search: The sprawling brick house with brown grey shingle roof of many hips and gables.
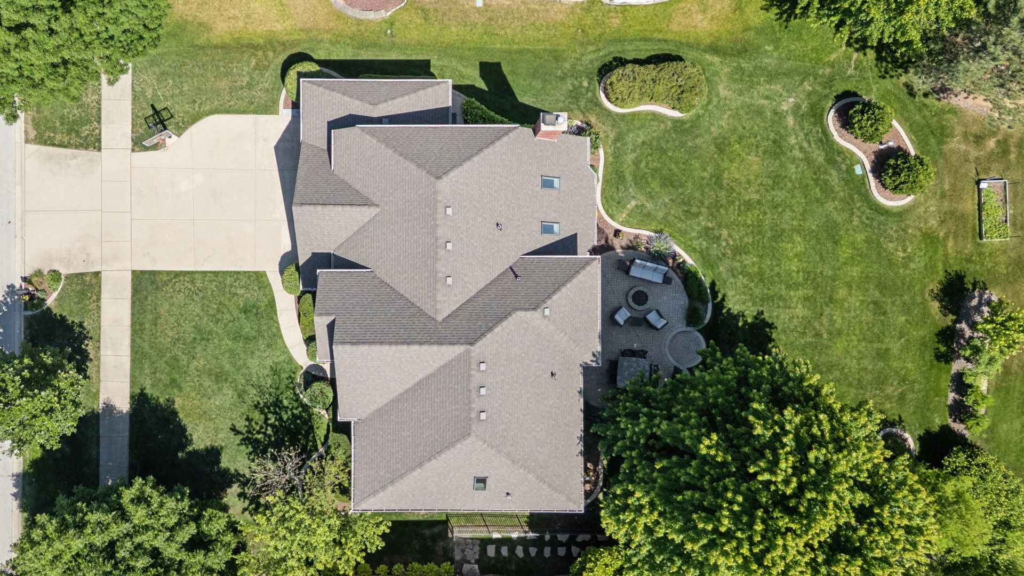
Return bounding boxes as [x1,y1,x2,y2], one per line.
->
[292,77,599,512]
